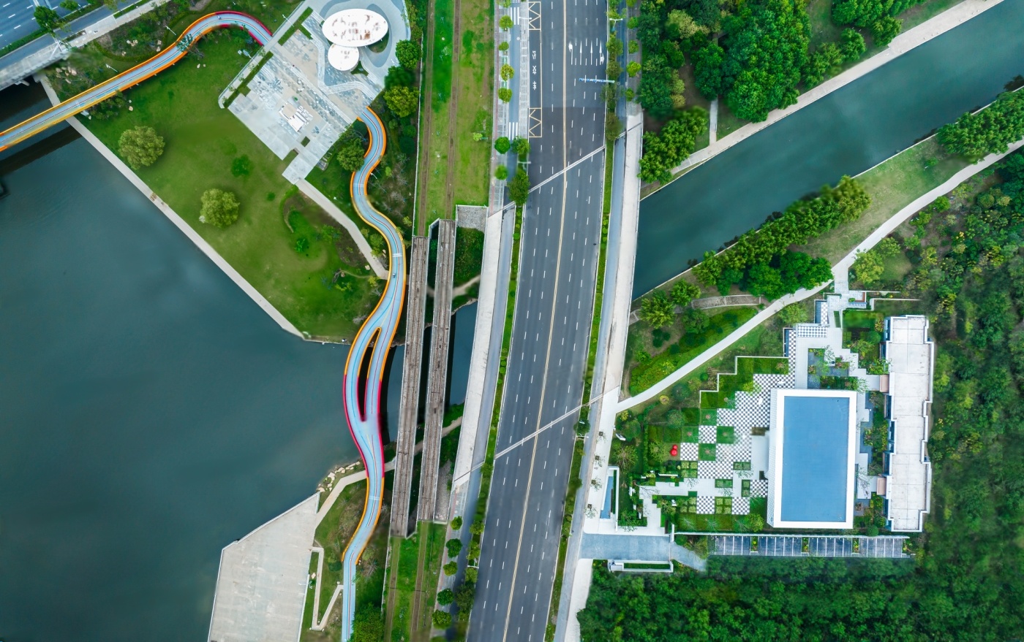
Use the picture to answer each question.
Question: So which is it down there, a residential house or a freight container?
residential house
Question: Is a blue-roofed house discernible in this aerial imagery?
Yes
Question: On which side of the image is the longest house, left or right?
right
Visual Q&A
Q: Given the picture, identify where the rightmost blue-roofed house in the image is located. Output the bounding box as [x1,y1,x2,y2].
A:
[766,387,856,529]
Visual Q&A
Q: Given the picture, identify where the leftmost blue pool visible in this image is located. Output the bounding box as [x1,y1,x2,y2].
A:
[600,475,614,520]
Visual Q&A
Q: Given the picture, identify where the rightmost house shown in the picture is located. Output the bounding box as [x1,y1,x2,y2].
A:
[878,315,933,532]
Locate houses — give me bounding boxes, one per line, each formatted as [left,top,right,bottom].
[878,315,933,532]
[766,387,856,529]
